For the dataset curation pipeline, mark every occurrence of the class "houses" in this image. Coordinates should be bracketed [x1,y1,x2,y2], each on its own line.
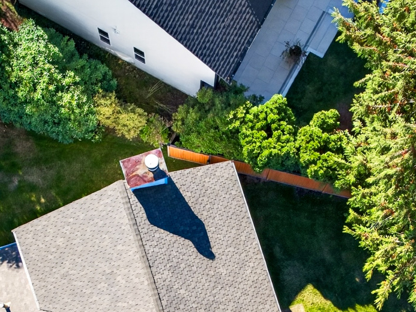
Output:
[0,146,286,312]
[16,0,273,108]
